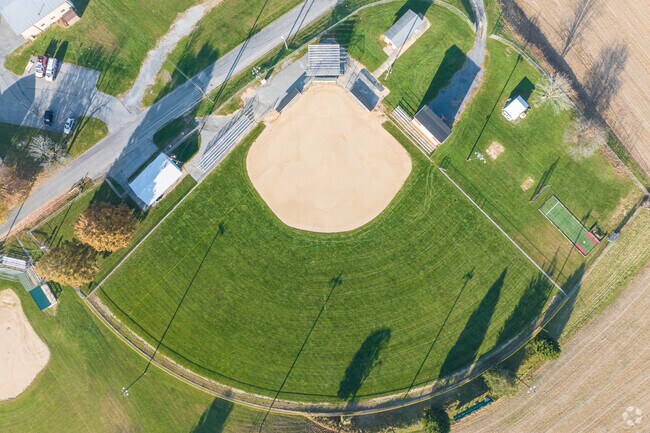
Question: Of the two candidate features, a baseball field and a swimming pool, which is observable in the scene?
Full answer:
It is a baseball field that can be seen here.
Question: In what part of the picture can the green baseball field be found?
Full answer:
The green baseball field is in the center part of the image.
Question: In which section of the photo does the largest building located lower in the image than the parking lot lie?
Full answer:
Look in the left portion of the view to spot the largest building located lower in the image than the parking lot.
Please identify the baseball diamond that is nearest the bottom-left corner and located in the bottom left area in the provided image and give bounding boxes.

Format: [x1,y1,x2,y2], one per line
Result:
[0,288,51,403]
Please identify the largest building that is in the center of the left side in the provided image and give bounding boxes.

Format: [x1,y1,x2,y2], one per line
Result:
[129,152,184,205]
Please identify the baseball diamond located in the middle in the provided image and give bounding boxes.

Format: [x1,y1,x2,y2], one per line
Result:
[91,80,566,416]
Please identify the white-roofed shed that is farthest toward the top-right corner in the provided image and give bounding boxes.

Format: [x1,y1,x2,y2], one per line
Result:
[501,95,529,121]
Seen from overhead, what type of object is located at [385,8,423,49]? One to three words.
building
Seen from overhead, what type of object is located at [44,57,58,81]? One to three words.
vehicle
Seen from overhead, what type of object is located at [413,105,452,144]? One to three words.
building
